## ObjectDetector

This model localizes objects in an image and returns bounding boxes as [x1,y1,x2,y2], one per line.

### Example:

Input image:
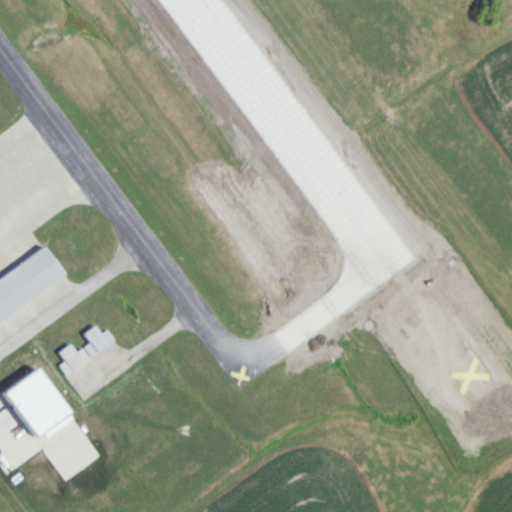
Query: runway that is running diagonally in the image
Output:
[157,0,416,352]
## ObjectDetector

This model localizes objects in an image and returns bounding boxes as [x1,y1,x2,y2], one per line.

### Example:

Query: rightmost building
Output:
[84,326,114,357]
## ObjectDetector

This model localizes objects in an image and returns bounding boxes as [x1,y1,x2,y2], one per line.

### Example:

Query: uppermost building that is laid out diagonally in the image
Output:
[0,247,67,325]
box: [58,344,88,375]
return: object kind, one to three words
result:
hangar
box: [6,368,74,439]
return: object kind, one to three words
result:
hangar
